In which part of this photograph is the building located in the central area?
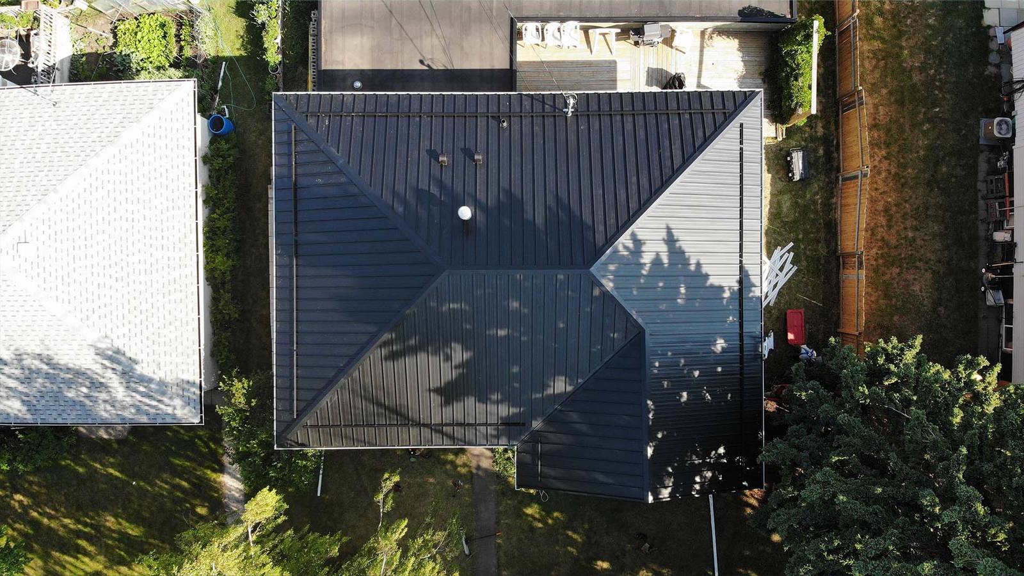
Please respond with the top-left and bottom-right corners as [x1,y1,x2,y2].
[271,88,769,504]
